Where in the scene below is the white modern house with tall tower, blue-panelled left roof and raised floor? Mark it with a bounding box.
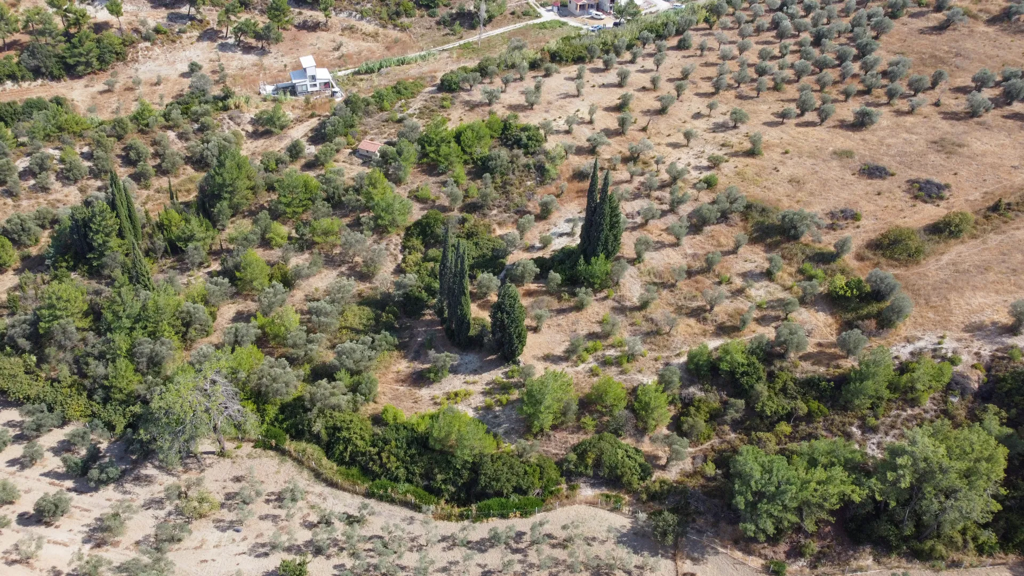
[286,57,331,94]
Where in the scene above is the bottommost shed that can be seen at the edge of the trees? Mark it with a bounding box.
[355,138,386,159]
